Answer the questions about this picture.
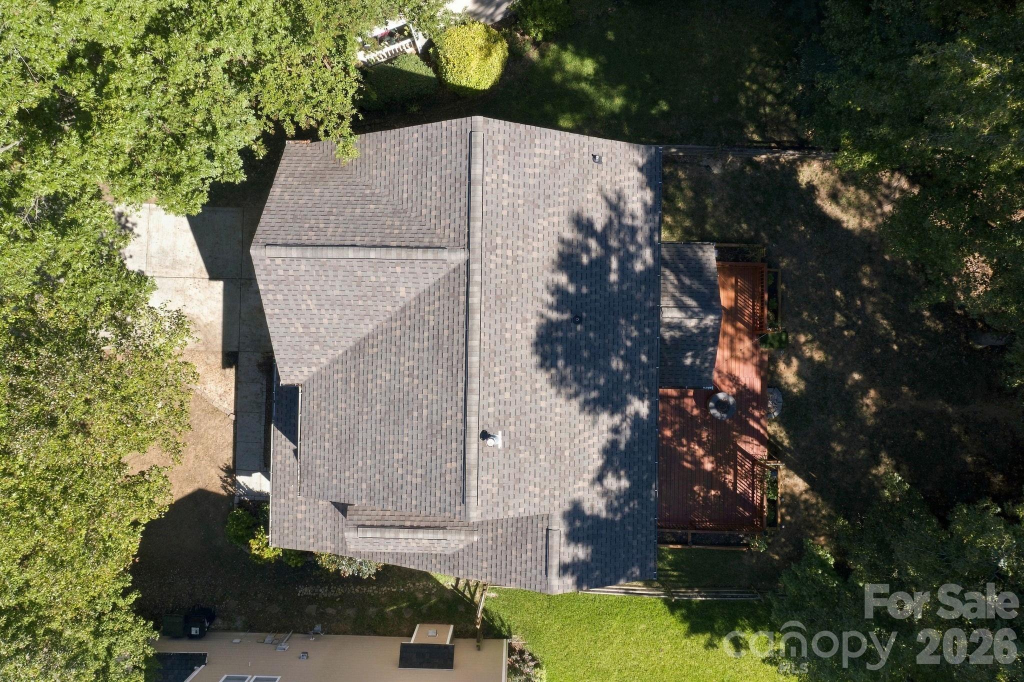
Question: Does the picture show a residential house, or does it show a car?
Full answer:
The image shows a residential house.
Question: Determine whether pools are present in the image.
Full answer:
No, I can't see a single pool in this photo.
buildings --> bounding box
[70,623,505,682]
[253,116,727,598]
